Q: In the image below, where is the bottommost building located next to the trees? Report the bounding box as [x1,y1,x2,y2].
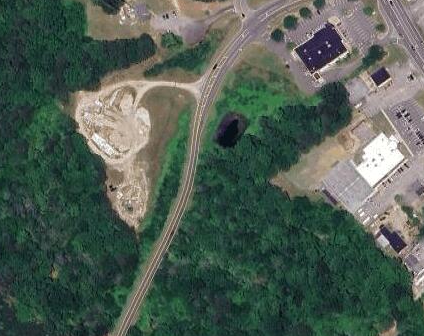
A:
[403,250,424,276]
